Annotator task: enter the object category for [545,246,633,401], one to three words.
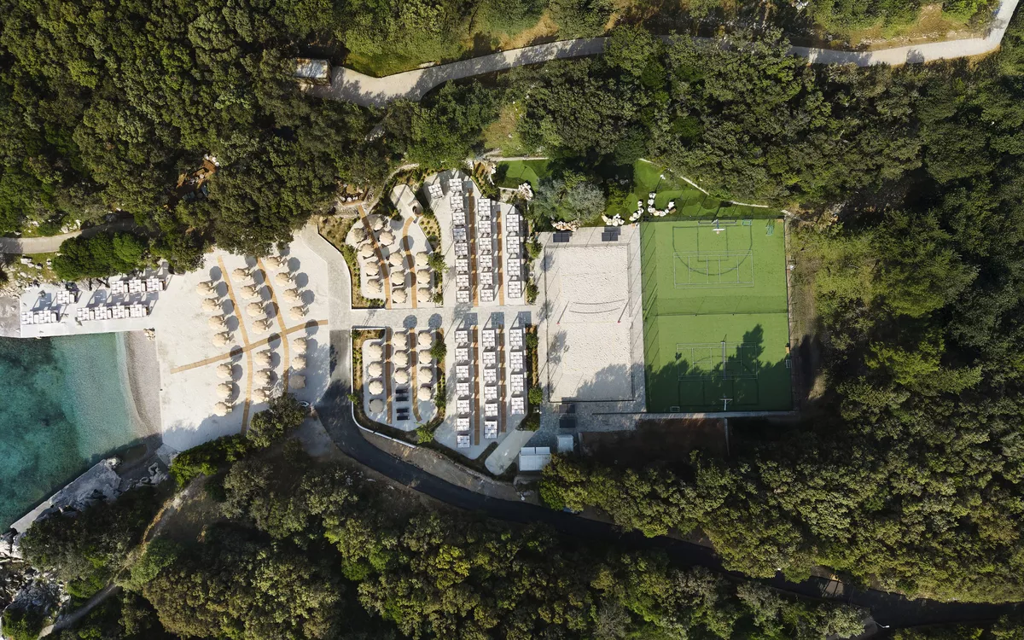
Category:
sports court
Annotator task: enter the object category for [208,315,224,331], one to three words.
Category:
umbrella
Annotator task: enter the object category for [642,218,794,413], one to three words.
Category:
sports court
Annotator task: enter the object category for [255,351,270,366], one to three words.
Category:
umbrella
